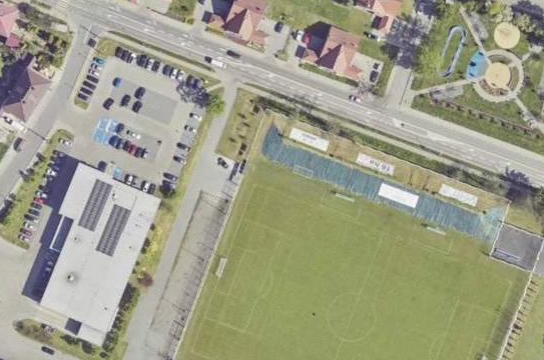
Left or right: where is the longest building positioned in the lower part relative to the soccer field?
on its left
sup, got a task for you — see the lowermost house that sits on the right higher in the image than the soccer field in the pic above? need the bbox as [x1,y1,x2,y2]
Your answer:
[299,22,364,78]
